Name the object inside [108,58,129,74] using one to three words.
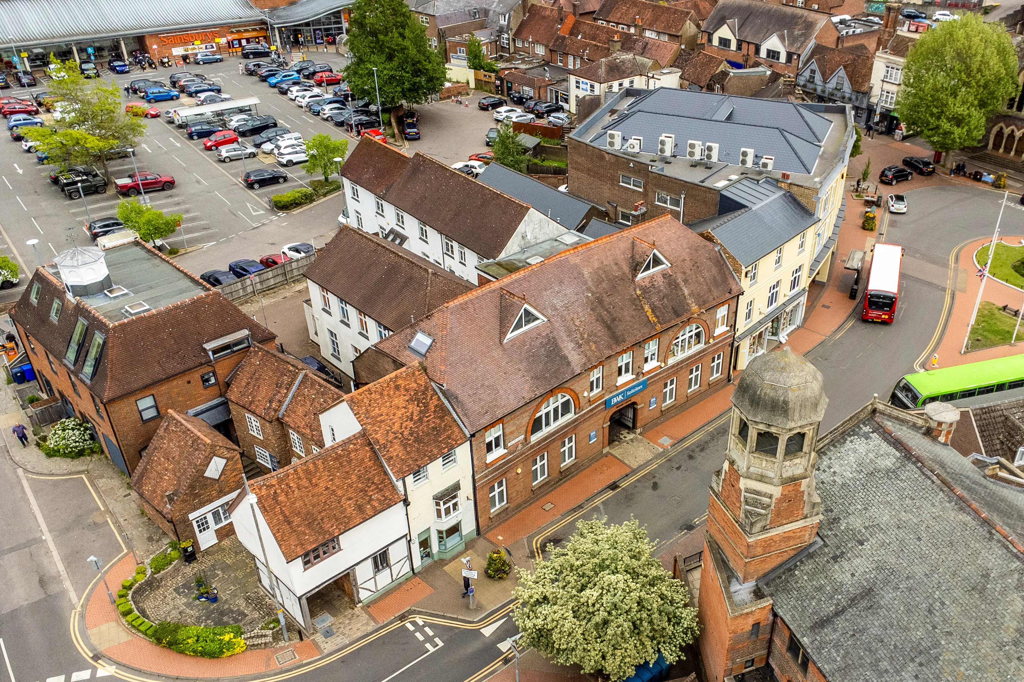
car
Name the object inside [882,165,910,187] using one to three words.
car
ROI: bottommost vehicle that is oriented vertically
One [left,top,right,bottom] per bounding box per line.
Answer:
[861,244,906,326]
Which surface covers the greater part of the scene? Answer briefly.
buildings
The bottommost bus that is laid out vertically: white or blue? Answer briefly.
white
